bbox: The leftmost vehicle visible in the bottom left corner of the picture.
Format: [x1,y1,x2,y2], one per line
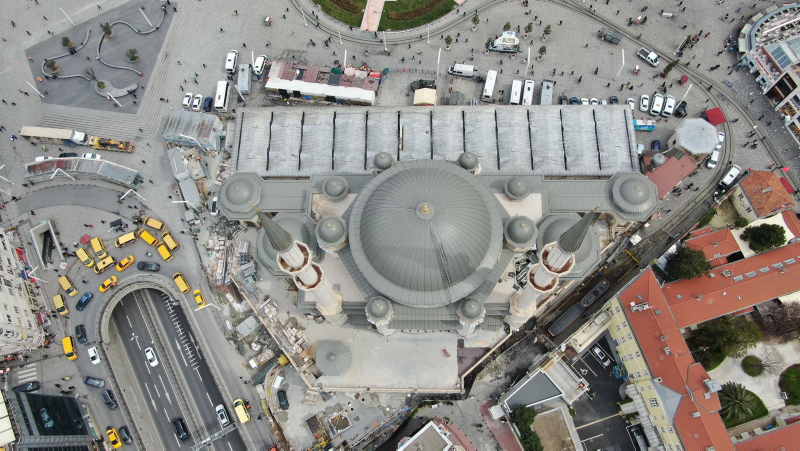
[9,379,39,395]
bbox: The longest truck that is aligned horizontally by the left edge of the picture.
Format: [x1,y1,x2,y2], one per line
[9,124,85,146]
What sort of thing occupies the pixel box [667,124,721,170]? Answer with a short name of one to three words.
house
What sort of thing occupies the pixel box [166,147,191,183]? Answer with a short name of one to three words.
building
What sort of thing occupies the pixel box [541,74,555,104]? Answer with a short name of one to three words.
vehicle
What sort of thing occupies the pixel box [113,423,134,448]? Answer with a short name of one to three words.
car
